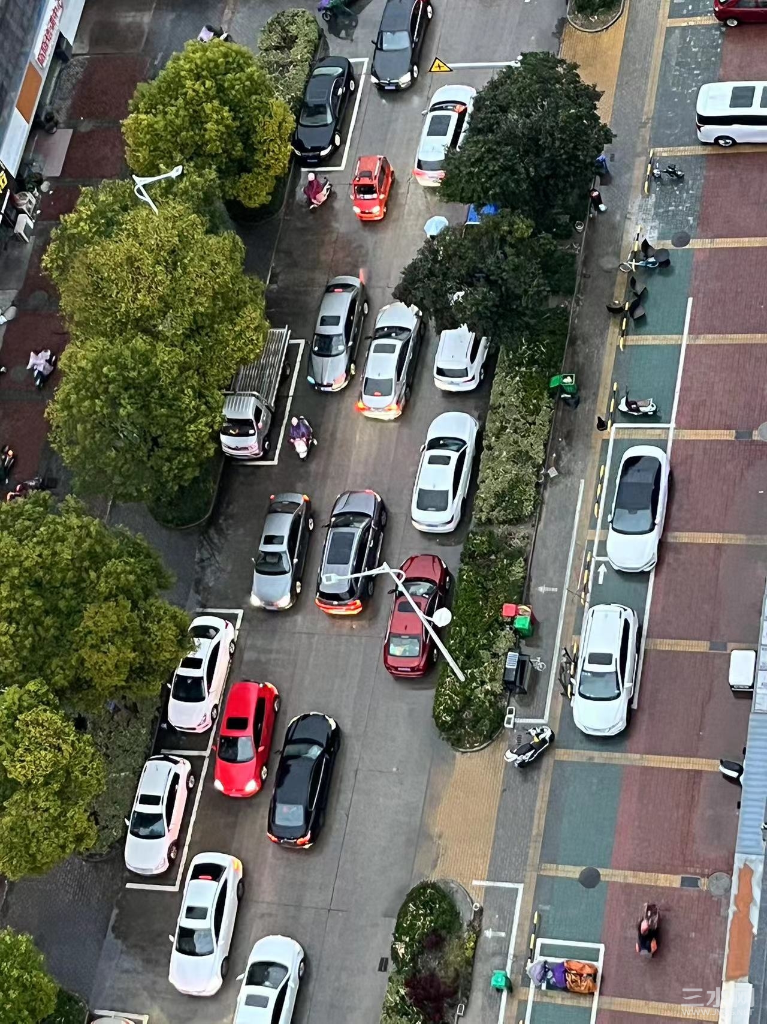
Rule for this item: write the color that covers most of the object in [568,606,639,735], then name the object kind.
white car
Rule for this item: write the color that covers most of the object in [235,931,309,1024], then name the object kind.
white car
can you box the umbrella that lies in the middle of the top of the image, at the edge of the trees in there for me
[423,216,451,241]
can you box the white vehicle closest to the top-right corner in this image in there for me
[702,79,767,143]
